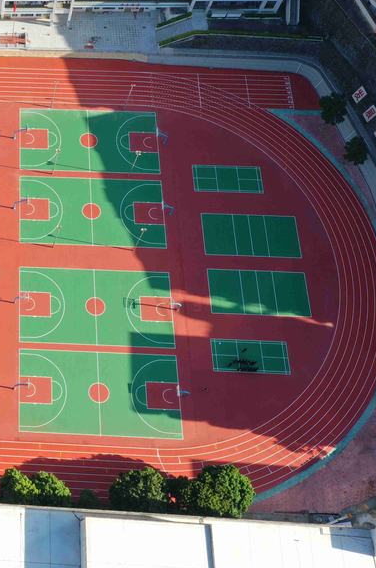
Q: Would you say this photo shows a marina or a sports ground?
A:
sports ground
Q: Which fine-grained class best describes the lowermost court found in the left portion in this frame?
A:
basketball court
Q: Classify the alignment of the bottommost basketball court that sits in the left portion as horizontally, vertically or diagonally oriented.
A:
horizontally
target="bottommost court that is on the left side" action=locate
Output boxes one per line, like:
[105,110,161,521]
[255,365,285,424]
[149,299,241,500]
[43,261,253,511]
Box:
[19,348,183,439]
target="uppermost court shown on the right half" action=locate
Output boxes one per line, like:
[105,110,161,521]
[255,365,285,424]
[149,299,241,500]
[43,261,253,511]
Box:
[193,165,263,194]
